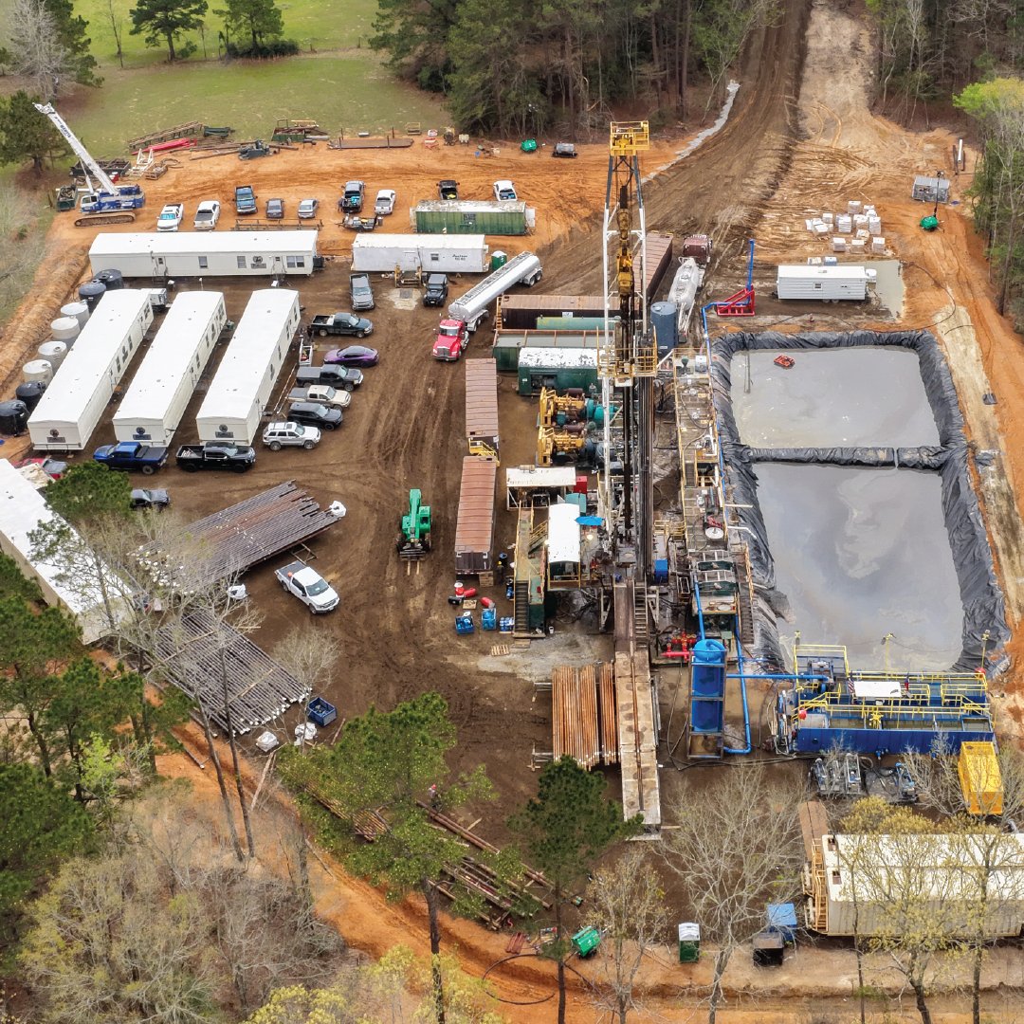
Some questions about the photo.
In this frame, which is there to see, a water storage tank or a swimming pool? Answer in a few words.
water storage tank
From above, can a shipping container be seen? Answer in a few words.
Yes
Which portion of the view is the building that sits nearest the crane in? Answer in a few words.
top left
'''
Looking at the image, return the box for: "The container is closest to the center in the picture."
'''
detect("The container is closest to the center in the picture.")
[407,202,532,238]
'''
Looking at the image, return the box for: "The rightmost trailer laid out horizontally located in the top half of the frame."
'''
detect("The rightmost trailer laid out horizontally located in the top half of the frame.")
[770,267,875,306]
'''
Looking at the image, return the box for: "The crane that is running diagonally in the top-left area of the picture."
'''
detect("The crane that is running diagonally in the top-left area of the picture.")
[28,100,146,228]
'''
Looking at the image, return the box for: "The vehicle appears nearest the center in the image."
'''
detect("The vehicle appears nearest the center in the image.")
[395,488,432,572]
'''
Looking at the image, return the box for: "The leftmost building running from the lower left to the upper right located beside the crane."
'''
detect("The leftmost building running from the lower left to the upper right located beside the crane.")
[27,287,156,456]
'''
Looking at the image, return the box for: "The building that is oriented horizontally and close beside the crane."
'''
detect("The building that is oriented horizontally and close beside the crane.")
[88,232,321,288]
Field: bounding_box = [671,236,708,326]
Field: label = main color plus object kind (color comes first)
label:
white trailer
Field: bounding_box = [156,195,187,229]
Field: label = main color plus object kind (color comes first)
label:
white truck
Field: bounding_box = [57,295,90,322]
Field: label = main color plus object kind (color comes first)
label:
white water tank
